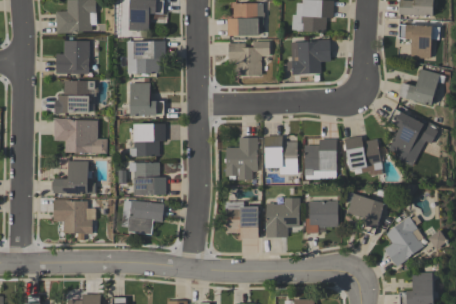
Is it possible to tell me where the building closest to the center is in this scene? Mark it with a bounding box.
[226,138,258,180]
